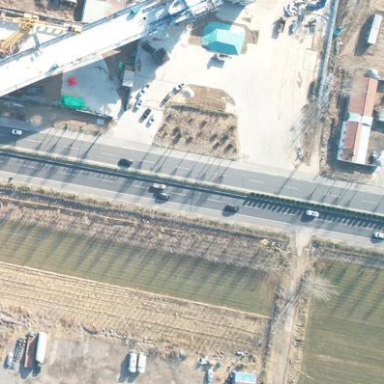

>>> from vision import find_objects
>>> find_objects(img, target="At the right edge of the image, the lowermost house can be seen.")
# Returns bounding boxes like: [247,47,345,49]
[332,124,371,167]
